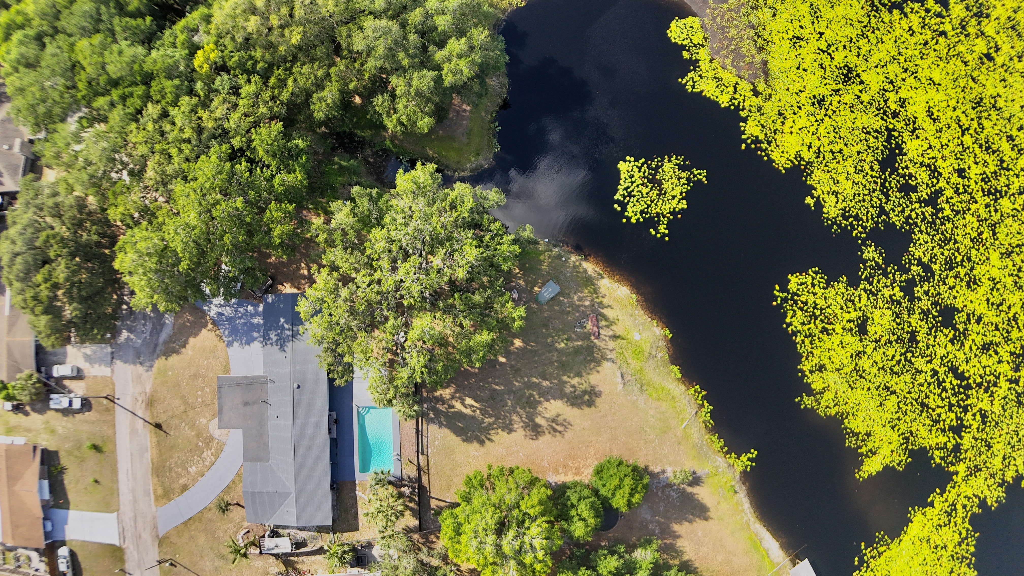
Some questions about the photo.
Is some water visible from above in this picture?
Yes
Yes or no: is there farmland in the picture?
No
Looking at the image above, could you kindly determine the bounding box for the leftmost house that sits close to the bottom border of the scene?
[0,444,56,548]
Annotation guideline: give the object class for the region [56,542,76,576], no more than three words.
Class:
vehicle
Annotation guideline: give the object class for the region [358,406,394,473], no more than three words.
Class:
swimming pool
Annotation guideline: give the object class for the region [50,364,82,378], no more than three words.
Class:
car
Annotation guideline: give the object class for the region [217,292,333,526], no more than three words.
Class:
house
